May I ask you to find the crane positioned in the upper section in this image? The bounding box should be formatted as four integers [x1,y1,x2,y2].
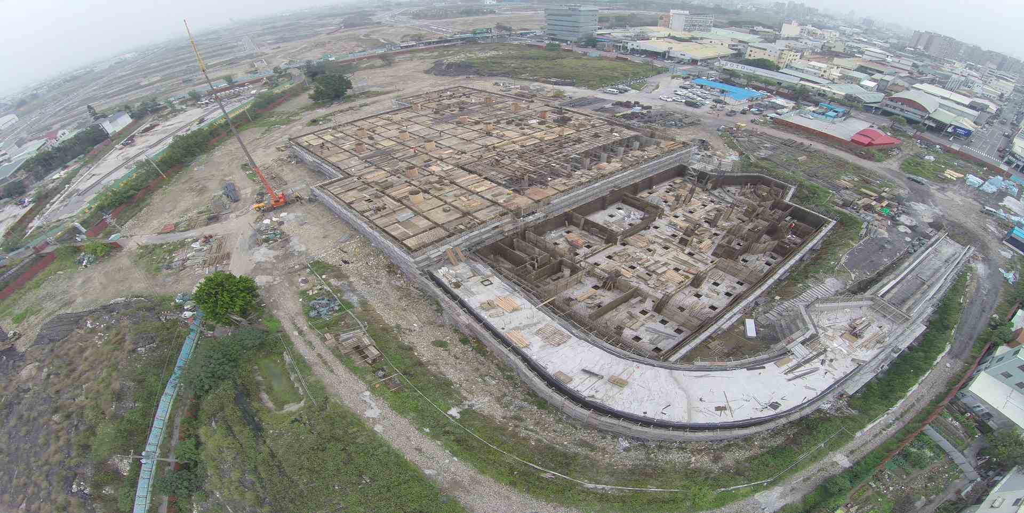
[183,19,291,211]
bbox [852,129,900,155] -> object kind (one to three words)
building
